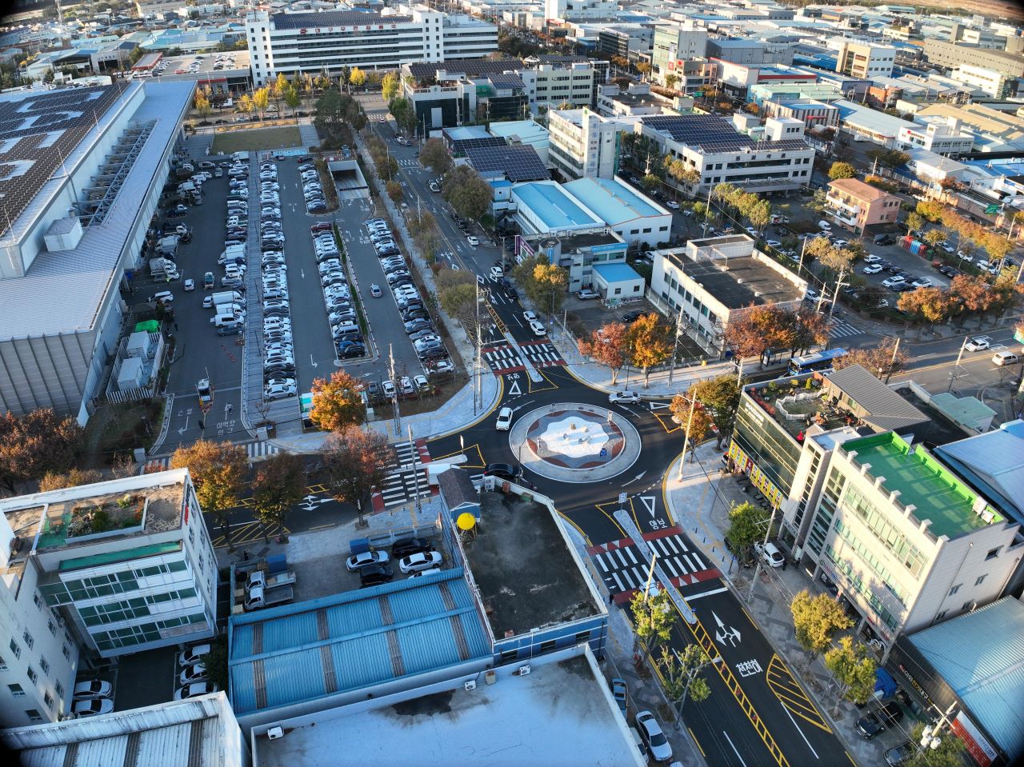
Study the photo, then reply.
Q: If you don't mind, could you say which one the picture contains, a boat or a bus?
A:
bus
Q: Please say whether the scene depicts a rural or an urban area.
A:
urban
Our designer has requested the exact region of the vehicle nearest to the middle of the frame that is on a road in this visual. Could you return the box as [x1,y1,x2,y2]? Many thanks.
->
[496,403,514,427]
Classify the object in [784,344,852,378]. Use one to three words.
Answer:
bus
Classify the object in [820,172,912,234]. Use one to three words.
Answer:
house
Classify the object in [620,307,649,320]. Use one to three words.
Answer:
vehicle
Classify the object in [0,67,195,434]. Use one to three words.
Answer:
building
